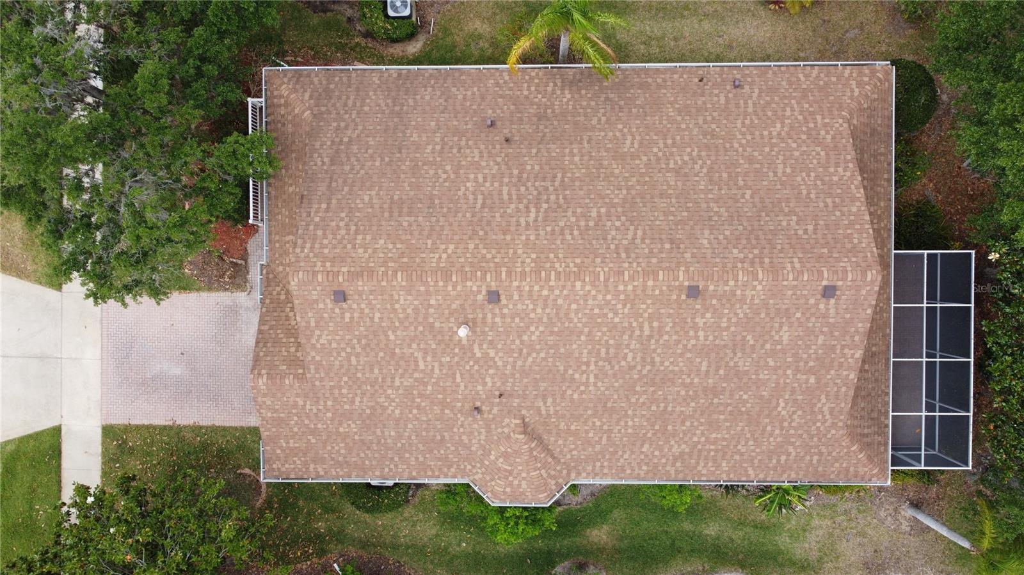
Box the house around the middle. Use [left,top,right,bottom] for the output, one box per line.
[252,62,896,508]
